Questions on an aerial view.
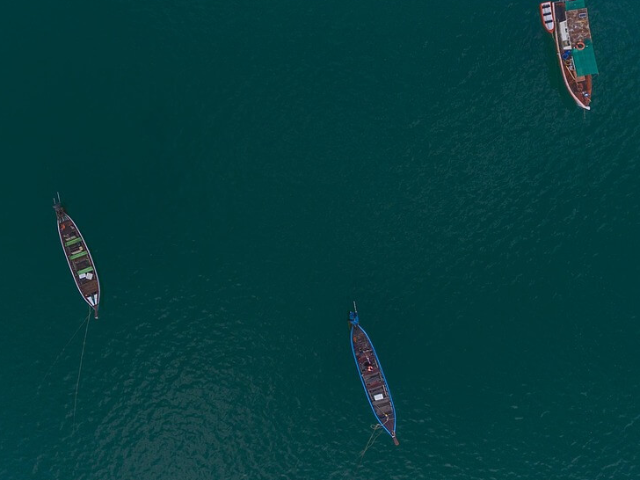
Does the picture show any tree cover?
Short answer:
No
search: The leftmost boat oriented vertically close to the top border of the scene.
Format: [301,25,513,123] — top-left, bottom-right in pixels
[539,1,554,34]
